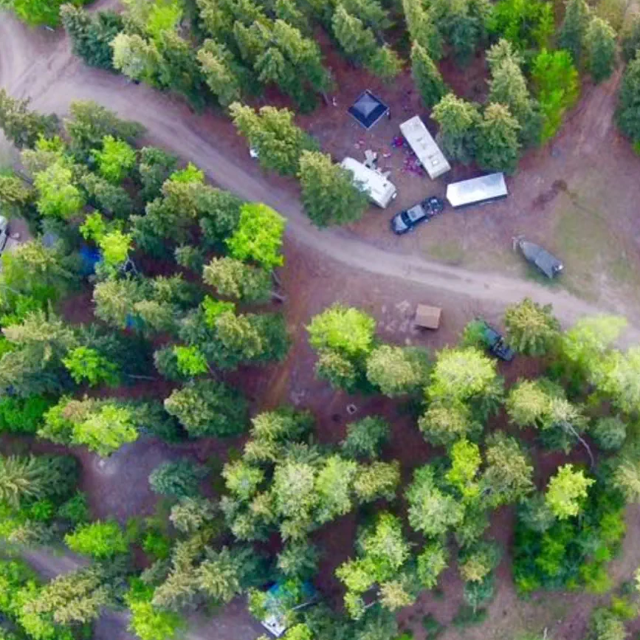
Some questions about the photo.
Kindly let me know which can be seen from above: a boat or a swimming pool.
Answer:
boat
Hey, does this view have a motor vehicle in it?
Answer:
Yes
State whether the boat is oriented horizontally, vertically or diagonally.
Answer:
diagonally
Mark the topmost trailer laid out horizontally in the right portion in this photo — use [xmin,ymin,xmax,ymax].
[440,171,509,205]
